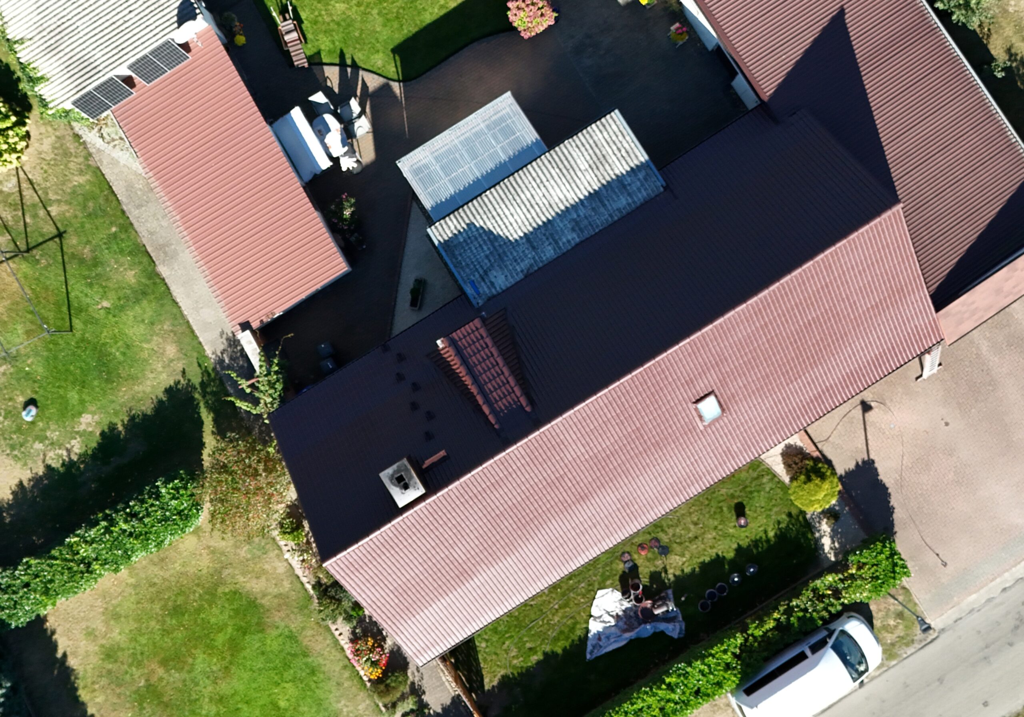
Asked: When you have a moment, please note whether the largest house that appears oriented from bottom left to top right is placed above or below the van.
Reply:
above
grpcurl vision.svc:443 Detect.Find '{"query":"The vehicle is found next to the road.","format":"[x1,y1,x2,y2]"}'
[734,620,885,717]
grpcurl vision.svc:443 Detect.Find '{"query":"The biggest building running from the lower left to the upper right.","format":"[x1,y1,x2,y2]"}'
[265,97,944,669]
